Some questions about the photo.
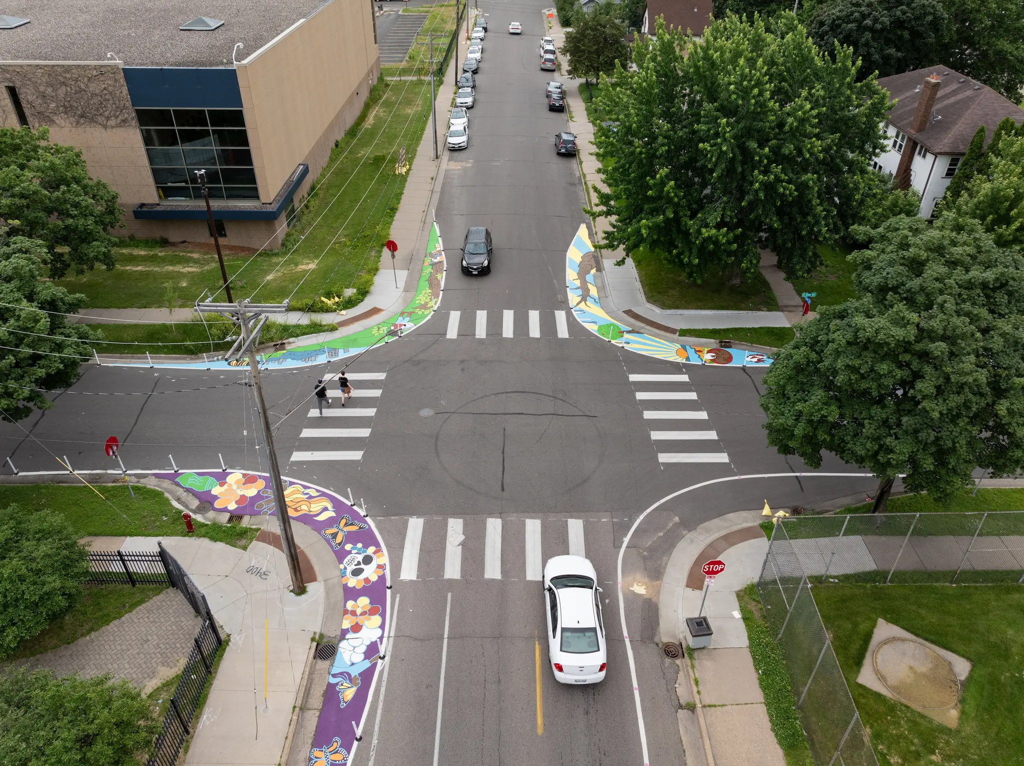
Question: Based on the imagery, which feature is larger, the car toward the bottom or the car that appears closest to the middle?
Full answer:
The larger object is the car toward the bottom, with the car that appears closest to the middle being the smaller of the pair.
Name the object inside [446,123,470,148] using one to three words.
car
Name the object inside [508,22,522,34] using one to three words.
vehicle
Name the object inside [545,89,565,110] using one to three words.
car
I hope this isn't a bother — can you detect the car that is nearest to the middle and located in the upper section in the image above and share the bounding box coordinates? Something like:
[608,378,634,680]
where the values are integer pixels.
[460,224,496,274]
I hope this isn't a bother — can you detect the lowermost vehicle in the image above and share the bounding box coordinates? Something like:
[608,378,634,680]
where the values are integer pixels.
[538,557,611,686]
